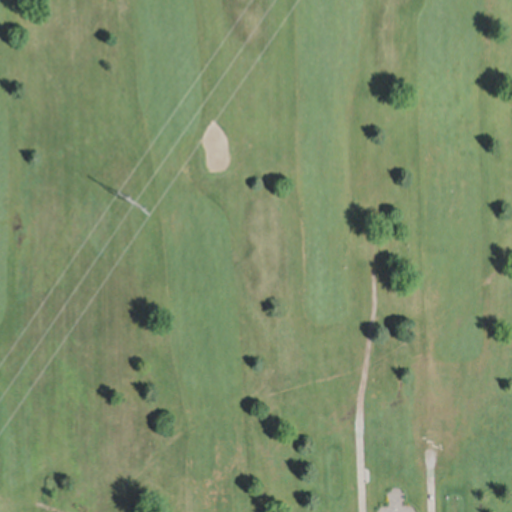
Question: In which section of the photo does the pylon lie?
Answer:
left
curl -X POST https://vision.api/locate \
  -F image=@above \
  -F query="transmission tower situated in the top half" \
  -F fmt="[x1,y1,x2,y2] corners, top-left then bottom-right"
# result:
[118,192,150,216]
